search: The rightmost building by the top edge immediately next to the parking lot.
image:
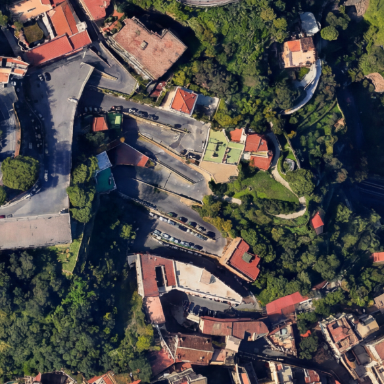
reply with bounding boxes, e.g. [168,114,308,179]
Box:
[106,8,191,83]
